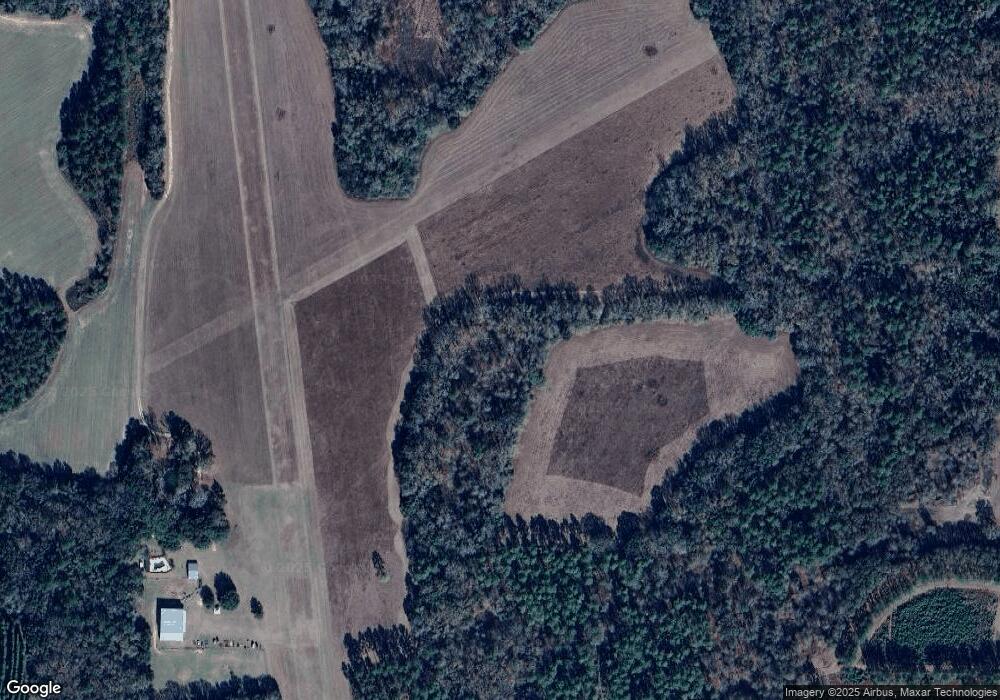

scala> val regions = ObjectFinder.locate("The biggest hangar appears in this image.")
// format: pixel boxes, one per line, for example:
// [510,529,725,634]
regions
[160,608,187,641]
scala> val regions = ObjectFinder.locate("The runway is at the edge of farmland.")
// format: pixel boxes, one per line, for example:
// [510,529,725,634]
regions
[144,0,723,700]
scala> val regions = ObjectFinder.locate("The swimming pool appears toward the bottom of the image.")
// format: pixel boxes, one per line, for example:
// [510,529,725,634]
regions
[149,557,171,572]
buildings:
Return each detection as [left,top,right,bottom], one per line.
[160,608,187,641]
[188,563,198,580]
